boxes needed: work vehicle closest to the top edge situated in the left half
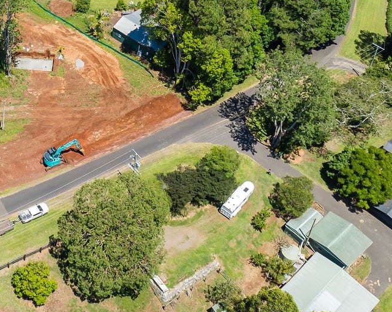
[41,133,89,168]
